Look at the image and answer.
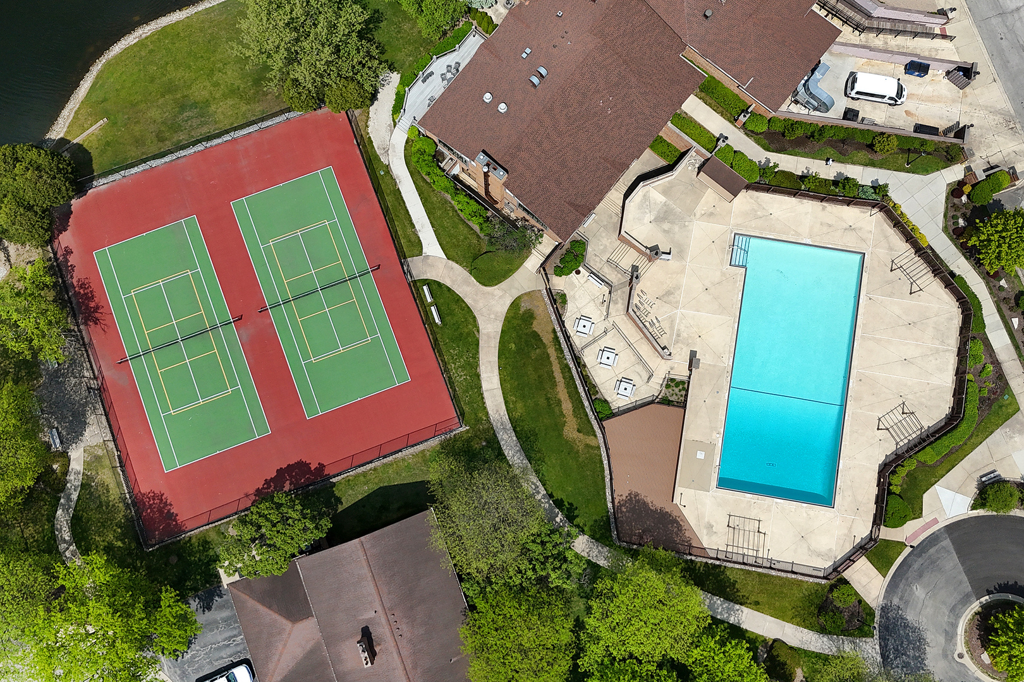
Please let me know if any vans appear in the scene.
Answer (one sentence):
Yes, the frame does contain a van.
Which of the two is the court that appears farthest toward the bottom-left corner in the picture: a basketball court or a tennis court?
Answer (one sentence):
It looks like the court that appears farthest toward the bottom-left corner is a tennis court.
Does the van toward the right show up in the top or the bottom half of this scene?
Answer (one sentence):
You can find the van toward the right in the top half.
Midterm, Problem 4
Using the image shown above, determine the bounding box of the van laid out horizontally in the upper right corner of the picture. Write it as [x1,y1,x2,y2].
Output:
[844,69,908,103]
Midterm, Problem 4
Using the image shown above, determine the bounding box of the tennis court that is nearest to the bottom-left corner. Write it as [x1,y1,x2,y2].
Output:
[93,216,271,473]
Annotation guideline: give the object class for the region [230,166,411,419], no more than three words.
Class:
tennis court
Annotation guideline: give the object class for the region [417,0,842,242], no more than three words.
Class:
building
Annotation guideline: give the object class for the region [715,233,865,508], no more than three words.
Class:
swimming pool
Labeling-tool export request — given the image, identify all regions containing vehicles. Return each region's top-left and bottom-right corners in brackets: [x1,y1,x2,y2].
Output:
[844,69,908,103]
[199,665,247,682]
